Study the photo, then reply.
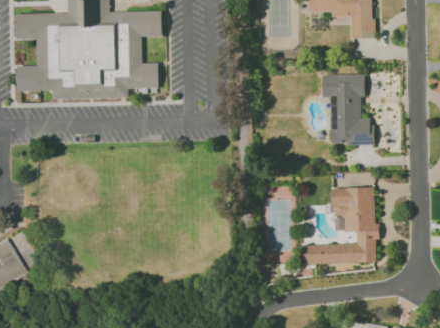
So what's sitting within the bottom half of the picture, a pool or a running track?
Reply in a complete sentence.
Looking within the bottom half of the picture, you will find a pool.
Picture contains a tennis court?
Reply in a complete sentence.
Yes, a tennis court appears in the view.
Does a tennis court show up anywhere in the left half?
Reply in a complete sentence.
No, there is no tennis court in the left half.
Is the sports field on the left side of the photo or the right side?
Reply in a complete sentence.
It is on the left.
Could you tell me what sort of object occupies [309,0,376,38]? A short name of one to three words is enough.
house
